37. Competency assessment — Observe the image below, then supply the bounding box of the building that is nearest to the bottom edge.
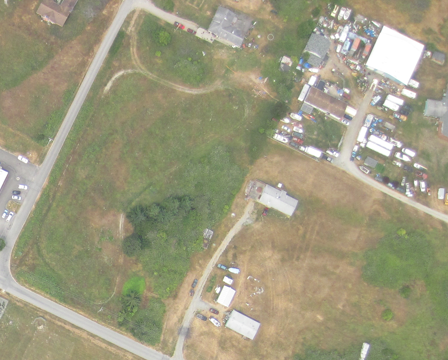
[224,310,260,340]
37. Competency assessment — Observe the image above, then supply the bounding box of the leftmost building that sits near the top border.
[37,0,82,28]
